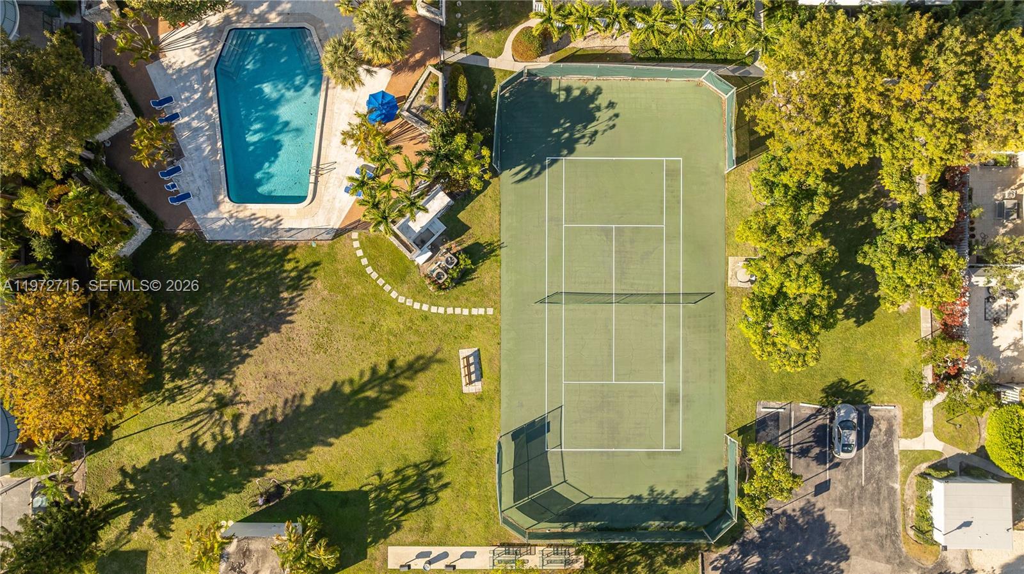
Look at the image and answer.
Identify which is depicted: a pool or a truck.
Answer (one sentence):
Of the two, only a pool appears.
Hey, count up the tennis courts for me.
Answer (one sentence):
The picture shows 1 tennis court.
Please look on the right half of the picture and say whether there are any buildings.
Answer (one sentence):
Yes, the scene does show a building on the right half of the picture.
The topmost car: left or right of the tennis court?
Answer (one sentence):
The topmost car is to the right of the tennis court.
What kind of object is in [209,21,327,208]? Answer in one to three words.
swimming pool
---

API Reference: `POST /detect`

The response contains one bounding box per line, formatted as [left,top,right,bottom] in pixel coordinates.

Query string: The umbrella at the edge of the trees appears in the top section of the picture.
[367,92,399,122]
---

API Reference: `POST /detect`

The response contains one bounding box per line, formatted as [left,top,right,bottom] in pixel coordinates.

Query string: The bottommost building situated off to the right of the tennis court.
[930,477,1015,551]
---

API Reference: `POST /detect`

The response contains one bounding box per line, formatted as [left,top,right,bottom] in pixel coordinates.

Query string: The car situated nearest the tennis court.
[831,404,860,461]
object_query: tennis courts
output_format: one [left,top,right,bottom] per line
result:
[500,78,726,530]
